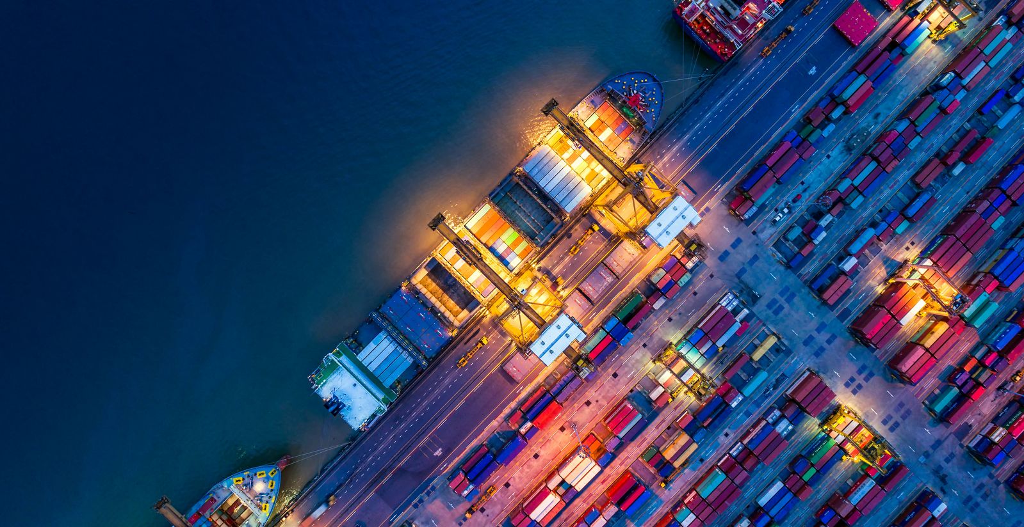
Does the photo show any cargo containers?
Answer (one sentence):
Yes, this view includes a cargo container.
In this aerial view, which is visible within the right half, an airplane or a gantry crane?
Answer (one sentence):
There is a gantry crane within the right half.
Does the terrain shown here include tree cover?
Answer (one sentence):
No, the scene doesn't show any tree cover.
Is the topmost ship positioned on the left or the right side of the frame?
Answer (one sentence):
It is on the right.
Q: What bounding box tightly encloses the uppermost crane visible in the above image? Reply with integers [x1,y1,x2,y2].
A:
[896,0,983,47]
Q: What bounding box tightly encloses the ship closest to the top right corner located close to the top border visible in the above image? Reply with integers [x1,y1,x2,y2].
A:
[673,0,787,62]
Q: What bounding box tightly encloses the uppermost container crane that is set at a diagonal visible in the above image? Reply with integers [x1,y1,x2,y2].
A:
[541,92,714,266]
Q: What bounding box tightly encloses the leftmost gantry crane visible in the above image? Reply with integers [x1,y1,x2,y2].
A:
[155,493,205,527]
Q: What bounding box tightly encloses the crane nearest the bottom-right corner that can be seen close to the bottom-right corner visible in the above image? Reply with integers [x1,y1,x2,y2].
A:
[817,404,899,474]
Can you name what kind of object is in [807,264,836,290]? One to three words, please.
shipping container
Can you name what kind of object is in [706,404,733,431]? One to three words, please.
shipping container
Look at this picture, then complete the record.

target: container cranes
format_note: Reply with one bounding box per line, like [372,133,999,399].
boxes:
[651,340,720,405]
[425,211,599,382]
[817,404,899,474]
[541,92,714,266]
[155,493,205,527]
[906,265,972,319]
[896,0,983,47]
